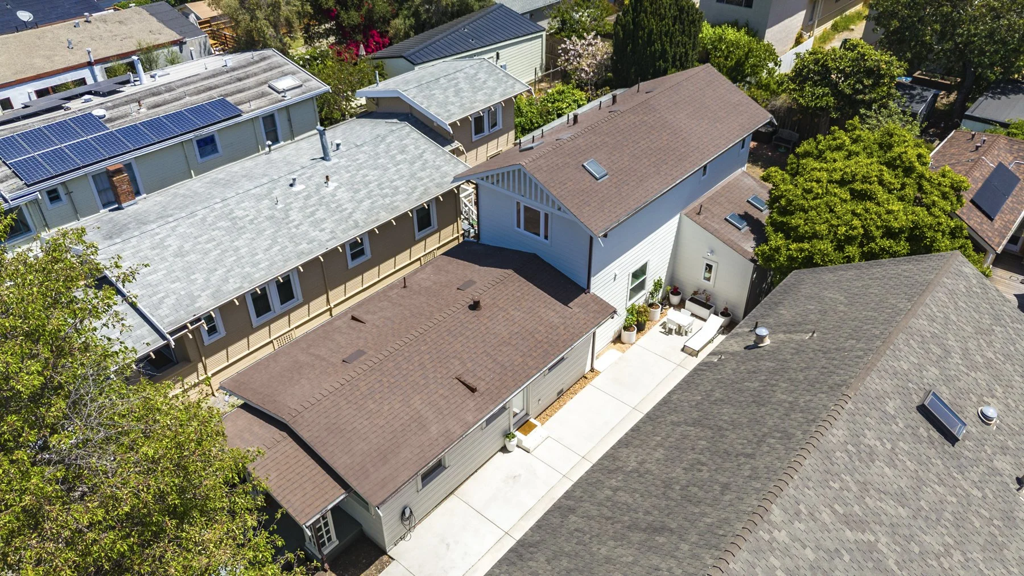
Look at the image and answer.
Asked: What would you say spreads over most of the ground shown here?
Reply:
buildings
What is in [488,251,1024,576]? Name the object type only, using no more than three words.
house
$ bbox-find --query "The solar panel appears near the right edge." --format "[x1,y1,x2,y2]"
[967,162,1023,221]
